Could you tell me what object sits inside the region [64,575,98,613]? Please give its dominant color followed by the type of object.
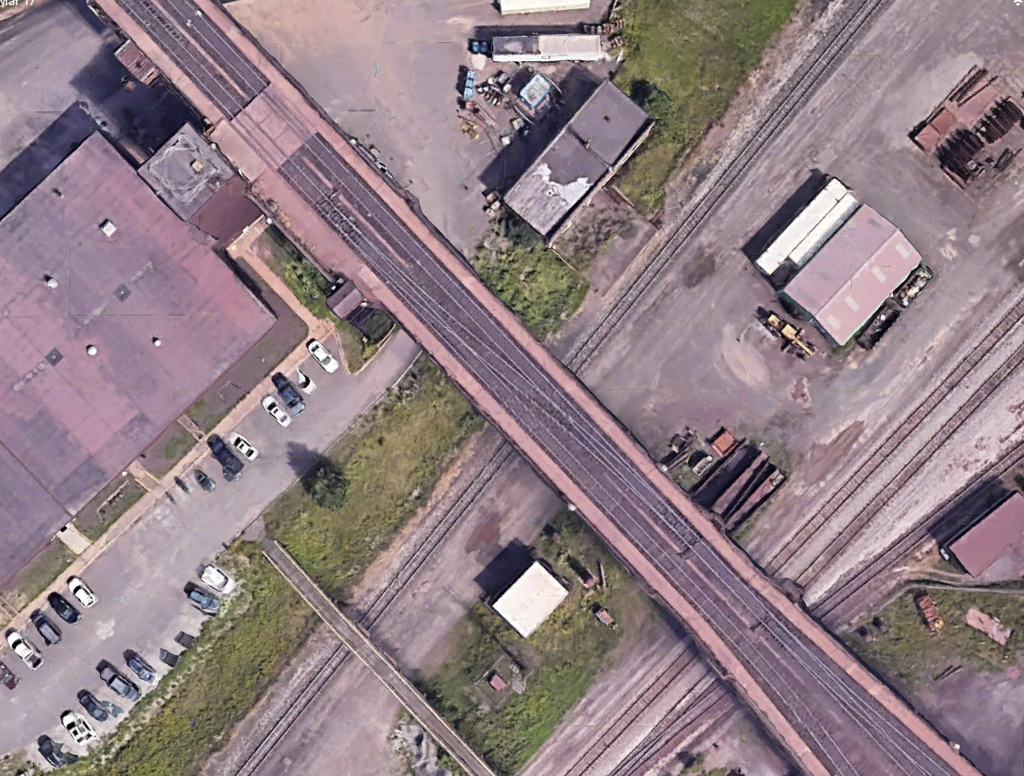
white car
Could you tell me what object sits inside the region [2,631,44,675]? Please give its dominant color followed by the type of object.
white vehicle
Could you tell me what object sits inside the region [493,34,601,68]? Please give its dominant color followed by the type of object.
white trailer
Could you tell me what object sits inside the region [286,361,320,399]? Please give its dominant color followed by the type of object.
white car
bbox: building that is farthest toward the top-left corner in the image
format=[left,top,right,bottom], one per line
[112,37,182,103]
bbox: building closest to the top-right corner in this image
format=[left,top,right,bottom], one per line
[778,204,924,347]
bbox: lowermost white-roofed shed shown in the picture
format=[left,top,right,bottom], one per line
[493,559,568,638]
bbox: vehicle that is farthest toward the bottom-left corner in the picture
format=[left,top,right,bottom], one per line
[34,734,70,772]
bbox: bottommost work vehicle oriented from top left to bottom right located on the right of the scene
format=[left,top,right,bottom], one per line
[764,305,820,359]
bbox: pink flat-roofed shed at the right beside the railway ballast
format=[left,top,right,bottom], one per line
[941,487,1024,577]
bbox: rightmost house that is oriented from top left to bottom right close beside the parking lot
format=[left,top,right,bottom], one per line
[327,280,384,352]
